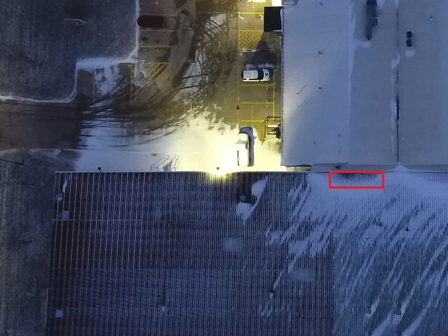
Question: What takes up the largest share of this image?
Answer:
buildings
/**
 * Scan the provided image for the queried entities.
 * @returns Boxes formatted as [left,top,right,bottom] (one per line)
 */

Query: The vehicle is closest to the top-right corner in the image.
[242,67,273,83]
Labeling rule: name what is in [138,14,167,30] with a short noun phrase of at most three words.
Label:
car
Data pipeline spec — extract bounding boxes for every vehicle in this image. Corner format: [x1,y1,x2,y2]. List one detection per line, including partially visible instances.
[138,14,167,30]
[237,132,251,167]
[242,67,273,83]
